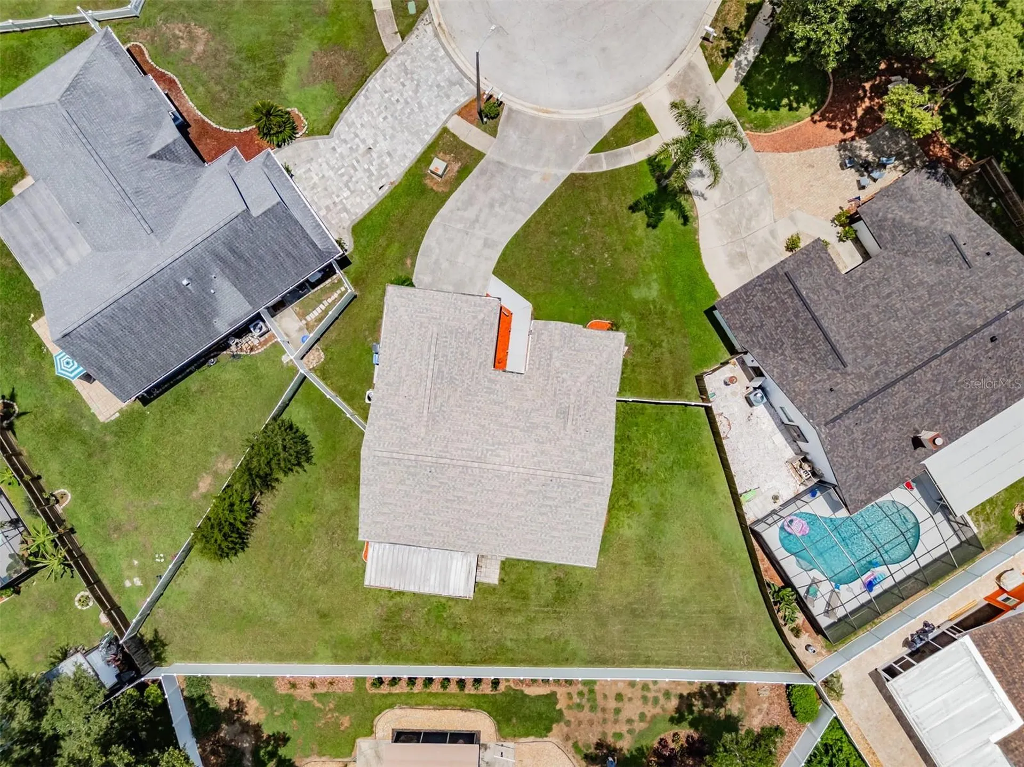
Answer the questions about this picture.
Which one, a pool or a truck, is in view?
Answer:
pool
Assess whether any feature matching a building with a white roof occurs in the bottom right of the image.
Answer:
Yes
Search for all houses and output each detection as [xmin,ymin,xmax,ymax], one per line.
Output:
[358,285,629,599]
[0,26,343,403]
[865,584,1024,767]
[380,729,481,767]
[710,159,1024,516]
